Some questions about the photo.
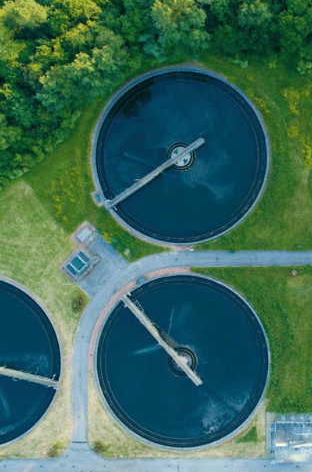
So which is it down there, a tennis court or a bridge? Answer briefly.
bridge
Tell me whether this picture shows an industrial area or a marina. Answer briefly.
industrial area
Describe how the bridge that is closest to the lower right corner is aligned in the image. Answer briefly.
on a diagonal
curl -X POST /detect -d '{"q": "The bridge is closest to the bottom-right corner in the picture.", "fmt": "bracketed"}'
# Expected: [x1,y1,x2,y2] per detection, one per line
[118,292,202,385]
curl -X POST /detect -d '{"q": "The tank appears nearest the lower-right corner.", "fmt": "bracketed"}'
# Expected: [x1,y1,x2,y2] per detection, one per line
[93,272,272,450]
